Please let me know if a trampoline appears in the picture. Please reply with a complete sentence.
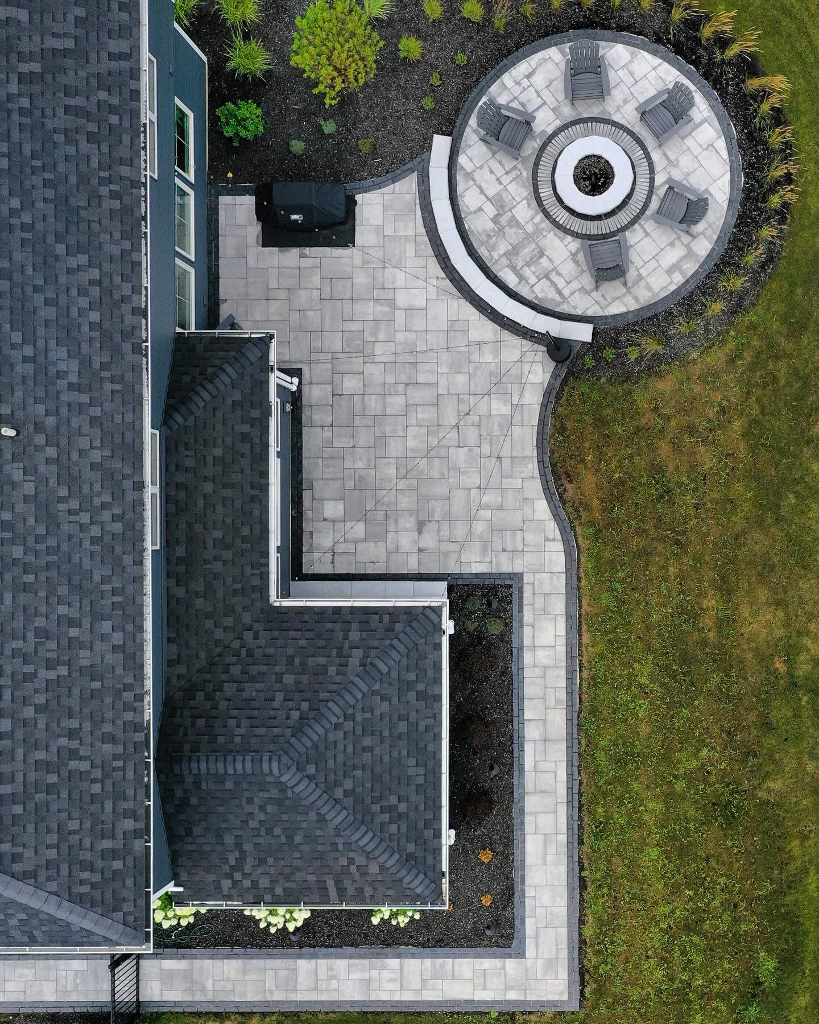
No, the picture doesn't show any trampoline.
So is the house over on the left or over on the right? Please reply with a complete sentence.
You can find the house on the left side of the picture.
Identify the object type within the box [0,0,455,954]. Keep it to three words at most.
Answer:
house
